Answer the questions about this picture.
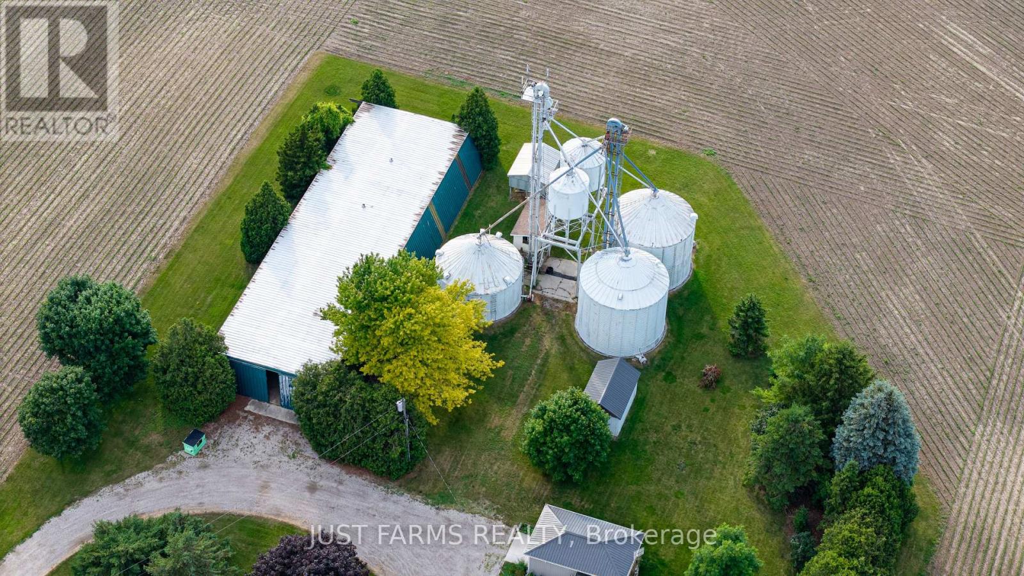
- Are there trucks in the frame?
No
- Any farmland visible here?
Yes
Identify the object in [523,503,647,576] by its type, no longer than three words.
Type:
building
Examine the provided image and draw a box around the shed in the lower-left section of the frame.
[178,425,207,456]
